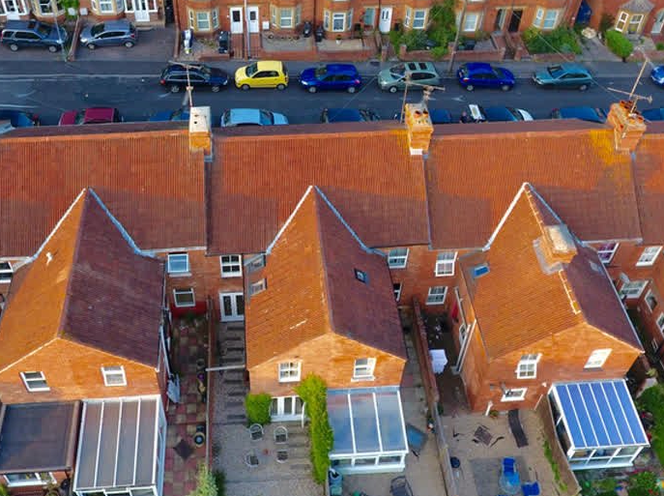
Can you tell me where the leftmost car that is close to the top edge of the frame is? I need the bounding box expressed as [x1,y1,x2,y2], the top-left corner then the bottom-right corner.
[0,17,67,49]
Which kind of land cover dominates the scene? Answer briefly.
buildings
